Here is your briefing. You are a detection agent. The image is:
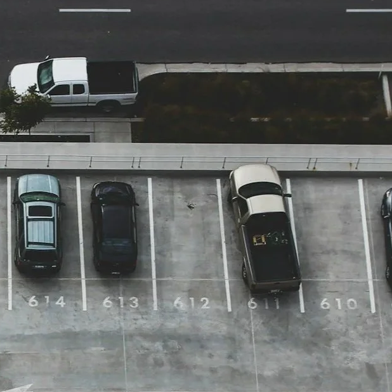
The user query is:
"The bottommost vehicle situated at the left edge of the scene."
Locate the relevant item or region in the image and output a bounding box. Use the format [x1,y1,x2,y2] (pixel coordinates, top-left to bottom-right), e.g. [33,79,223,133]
[12,173,67,280]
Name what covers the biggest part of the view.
paved ground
